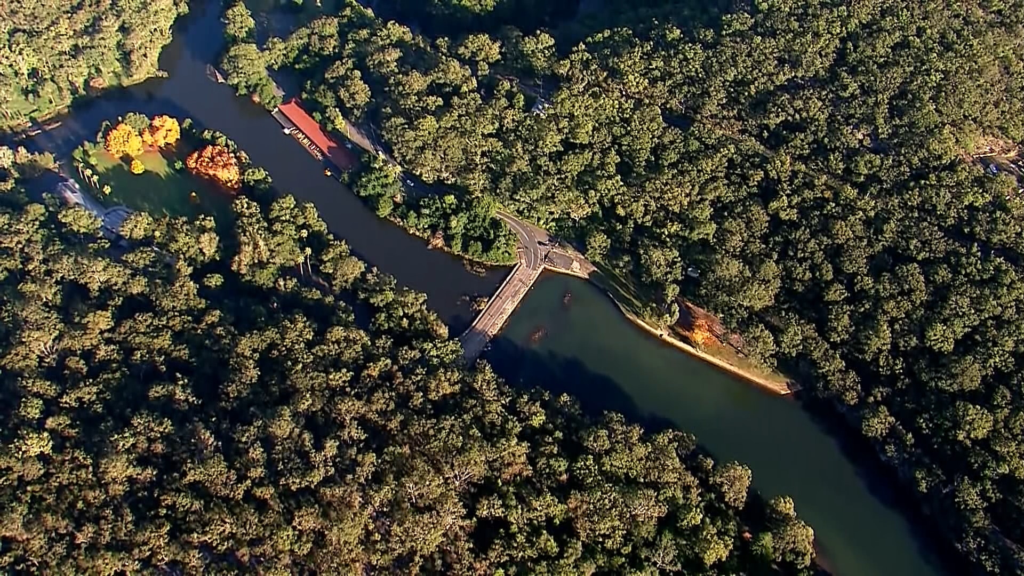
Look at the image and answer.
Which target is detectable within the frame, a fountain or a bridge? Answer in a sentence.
It is a bridge that can be seen here.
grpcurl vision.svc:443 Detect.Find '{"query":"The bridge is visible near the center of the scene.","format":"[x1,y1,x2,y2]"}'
[462,245,543,358]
